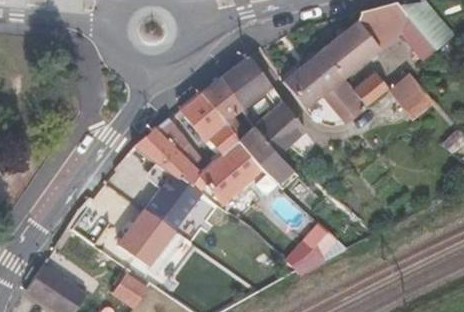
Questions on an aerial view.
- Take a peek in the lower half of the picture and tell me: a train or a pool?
pool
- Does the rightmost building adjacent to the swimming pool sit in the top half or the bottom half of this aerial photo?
bottom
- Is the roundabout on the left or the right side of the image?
left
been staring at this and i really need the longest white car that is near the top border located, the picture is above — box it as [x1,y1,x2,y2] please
[300,7,322,20]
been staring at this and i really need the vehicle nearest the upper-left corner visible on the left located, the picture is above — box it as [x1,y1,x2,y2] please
[78,134,96,154]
